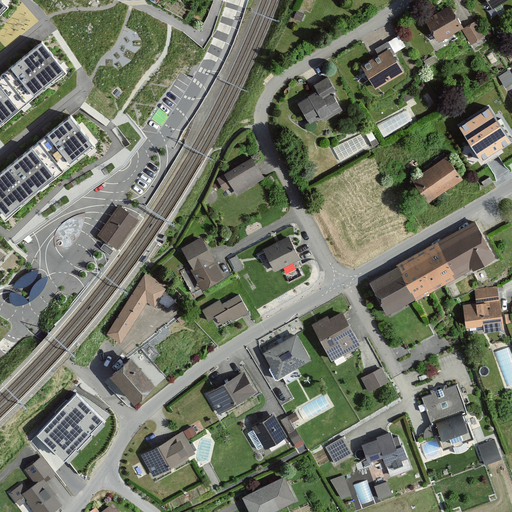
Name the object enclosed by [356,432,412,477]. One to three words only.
house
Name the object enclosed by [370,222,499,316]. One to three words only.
barn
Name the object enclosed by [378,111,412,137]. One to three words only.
greenhouse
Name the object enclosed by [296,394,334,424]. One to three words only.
swimming pool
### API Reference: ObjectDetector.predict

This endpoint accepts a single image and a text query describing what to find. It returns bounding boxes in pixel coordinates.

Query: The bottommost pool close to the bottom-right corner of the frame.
[420,436,447,462]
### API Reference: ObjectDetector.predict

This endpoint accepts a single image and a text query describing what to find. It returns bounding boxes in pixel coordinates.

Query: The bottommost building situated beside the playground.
[0,42,68,130]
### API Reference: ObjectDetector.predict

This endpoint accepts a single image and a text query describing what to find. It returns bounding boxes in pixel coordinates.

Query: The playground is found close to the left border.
[0,3,38,46]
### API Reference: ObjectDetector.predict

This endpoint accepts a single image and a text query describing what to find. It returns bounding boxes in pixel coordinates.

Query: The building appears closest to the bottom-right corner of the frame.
[476,439,501,465]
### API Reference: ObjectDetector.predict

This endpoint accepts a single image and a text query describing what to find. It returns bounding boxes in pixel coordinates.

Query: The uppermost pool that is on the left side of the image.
[195,431,214,467]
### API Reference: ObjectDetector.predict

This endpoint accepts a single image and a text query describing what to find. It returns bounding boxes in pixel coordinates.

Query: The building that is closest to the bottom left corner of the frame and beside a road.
[8,456,70,512]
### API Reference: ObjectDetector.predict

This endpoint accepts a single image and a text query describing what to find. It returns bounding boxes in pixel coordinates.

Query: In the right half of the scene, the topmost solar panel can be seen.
[370,62,402,86]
